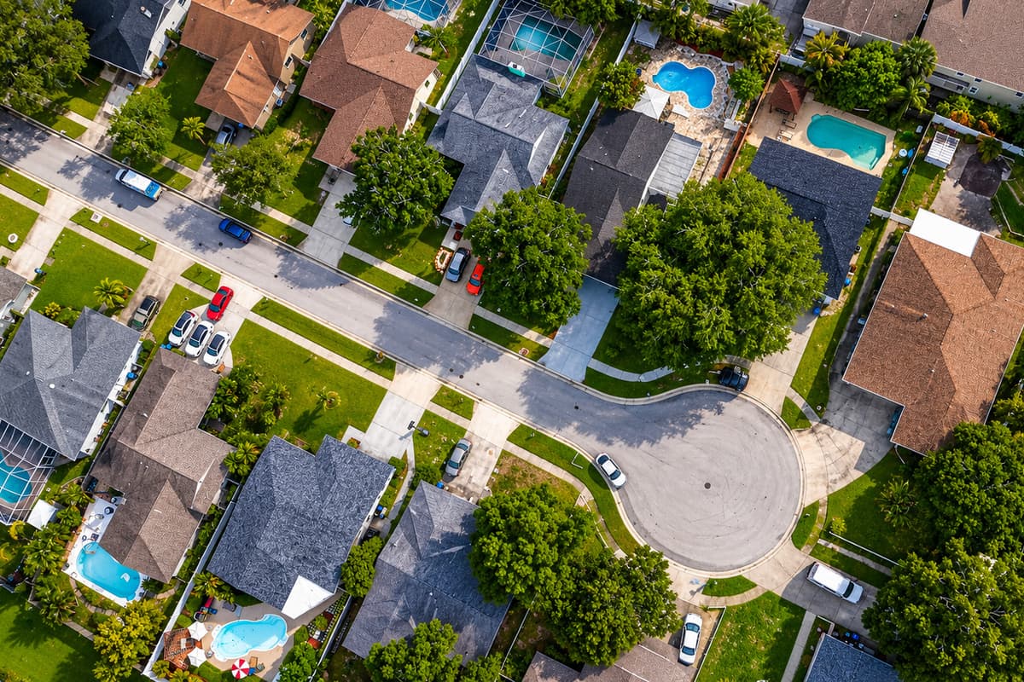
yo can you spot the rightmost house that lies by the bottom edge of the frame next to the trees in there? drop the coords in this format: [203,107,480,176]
[802,633,910,682]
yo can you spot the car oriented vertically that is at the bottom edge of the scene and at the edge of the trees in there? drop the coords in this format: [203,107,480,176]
[677,612,702,665]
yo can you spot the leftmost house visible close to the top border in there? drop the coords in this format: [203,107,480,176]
[63,0,182,81]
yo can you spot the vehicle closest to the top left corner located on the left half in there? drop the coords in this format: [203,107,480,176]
[115,169,167,205]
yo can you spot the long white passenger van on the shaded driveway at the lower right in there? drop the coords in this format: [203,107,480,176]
[803,559,864,605]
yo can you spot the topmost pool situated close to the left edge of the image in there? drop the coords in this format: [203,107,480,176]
[0,450,33,506]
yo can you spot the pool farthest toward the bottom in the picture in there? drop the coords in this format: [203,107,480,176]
[210,611,289,662]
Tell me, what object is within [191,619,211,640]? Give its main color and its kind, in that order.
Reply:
white umbrella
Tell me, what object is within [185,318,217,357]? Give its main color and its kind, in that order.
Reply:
white car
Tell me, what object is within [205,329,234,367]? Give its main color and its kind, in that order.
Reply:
white car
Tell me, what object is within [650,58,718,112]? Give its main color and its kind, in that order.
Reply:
blue swimming pool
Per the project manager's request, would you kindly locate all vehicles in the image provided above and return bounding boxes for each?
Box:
[133,294,162,332]
[205,329,234,367]
[220,218,256,246]
[170,309,201,347]
[217,120,241,153]
[445,244,475,286]
[803,559,864,605]
[185,318,217,357]
[677,612,702,665]
[712,363,754,394]
[593,451,629,491]
[445,436,473,478]
[208,285,236,322]
[115,169,167,205]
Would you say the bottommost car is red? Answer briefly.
No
